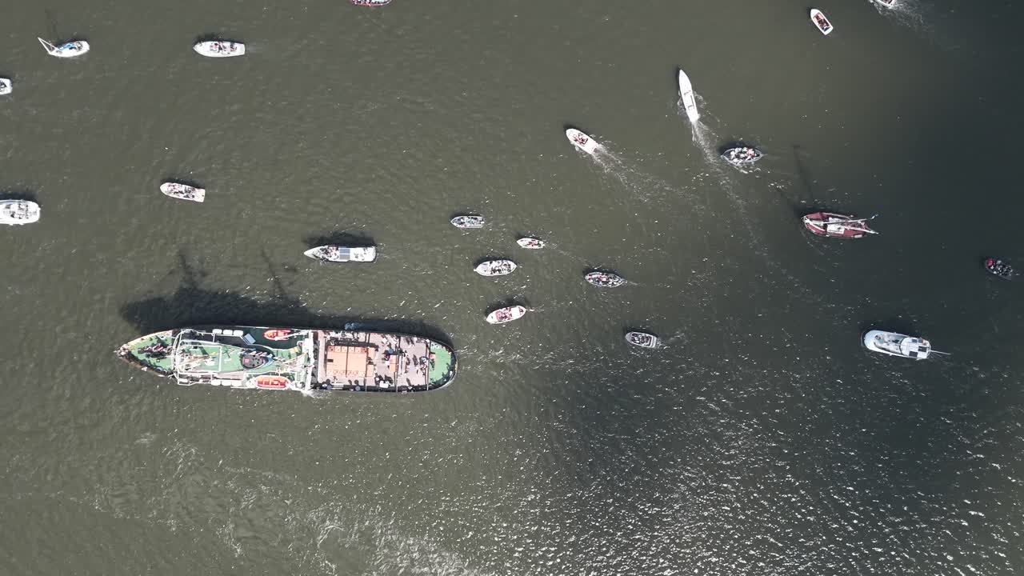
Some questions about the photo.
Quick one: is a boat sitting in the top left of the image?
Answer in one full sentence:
Yes, I can see a boat in the top left of the image.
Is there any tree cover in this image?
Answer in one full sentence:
No, tree cover can't be seen anywhere here.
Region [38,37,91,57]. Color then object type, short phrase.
white boat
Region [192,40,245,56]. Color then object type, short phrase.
white boat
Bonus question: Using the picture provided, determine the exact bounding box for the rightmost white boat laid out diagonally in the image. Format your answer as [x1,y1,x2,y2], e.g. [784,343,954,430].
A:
[811,7,835,38]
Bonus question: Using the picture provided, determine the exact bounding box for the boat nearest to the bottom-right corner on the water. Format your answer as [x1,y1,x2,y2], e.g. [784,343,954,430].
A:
[865,332,951,361]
